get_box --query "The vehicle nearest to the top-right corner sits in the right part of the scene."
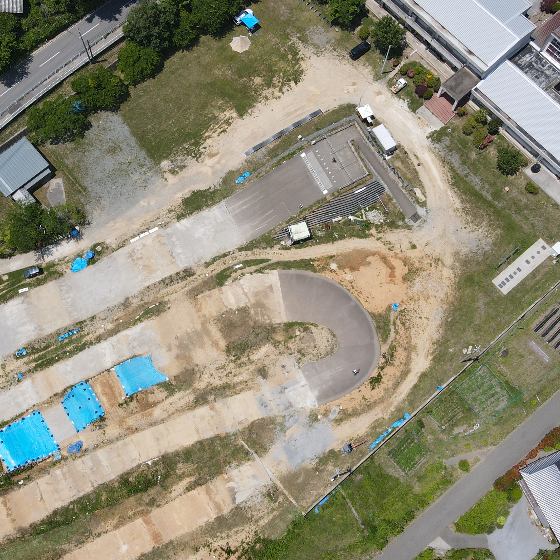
[389,74,409,93]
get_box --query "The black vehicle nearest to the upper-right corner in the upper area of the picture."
[348,39,372,59]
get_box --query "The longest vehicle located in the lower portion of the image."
[339,439,370,457]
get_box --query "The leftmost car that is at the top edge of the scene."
[231,6,255,28]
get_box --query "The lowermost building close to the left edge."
[0,137,50,212]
